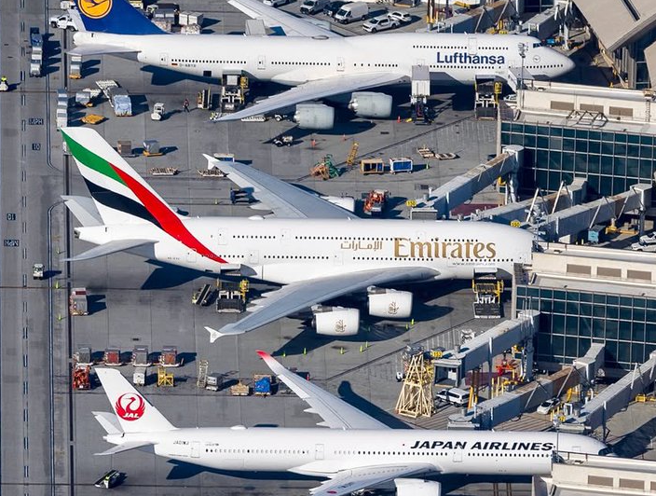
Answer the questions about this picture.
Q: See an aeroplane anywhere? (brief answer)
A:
Yes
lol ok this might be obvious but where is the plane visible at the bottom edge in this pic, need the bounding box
[93,352,615,496]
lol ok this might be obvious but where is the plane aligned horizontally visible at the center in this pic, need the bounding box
[60,127,539,336]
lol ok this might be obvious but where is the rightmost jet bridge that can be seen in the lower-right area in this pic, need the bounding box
[547,346,656,446]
